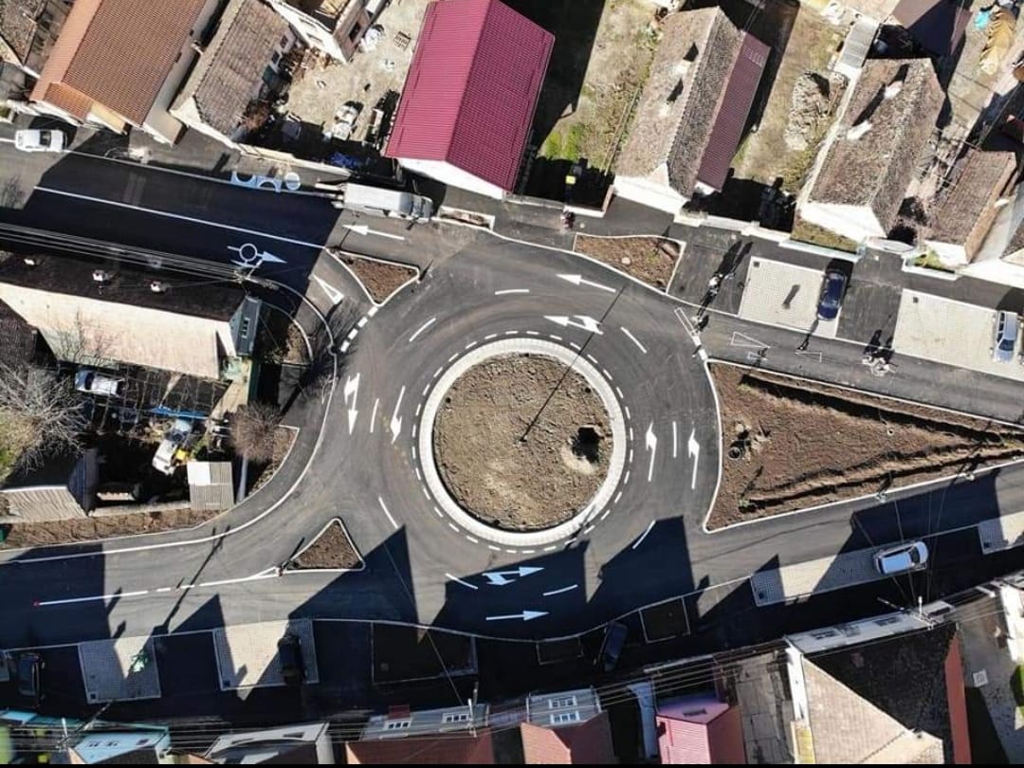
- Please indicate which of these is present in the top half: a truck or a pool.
truck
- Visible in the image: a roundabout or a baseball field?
roundabout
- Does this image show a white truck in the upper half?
Yes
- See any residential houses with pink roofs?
Yes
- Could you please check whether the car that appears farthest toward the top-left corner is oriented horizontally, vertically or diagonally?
horizontally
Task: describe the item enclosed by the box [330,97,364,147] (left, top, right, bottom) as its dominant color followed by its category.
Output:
white car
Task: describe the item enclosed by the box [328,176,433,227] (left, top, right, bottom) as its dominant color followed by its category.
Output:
white truck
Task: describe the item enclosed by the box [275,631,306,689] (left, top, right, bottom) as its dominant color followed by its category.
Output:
black car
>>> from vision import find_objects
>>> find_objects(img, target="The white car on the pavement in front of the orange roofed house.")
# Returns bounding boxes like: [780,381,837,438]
[12,127,69,156]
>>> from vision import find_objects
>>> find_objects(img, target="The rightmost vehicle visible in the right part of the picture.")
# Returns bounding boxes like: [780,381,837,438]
[986,308,1023,365]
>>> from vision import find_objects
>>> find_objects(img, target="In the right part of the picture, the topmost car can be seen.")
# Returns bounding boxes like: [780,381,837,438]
[812,265,849,321]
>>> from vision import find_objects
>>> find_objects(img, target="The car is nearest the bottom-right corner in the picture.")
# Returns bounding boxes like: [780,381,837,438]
[867,538,929,576]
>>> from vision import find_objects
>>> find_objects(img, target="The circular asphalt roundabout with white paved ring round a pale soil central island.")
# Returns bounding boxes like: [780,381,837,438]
[343,275,700,621]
